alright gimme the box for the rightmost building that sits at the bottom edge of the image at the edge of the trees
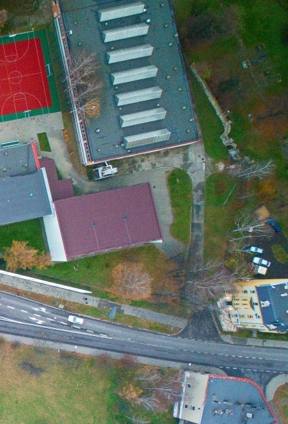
[177,370,279,424]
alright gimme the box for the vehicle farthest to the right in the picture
[270,218,284,233]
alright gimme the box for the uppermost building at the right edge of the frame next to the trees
[205,277,288,330]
